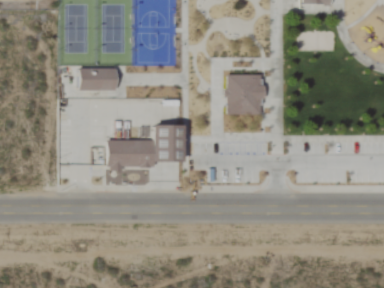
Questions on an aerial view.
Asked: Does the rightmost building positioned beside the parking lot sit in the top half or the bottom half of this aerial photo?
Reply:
top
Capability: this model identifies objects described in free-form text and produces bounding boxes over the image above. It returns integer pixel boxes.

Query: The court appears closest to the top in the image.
[132,0,176,30]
